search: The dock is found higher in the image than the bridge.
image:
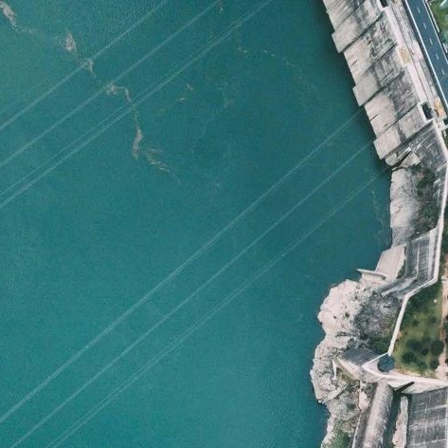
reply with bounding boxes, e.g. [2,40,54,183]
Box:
[357,268,388,284]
